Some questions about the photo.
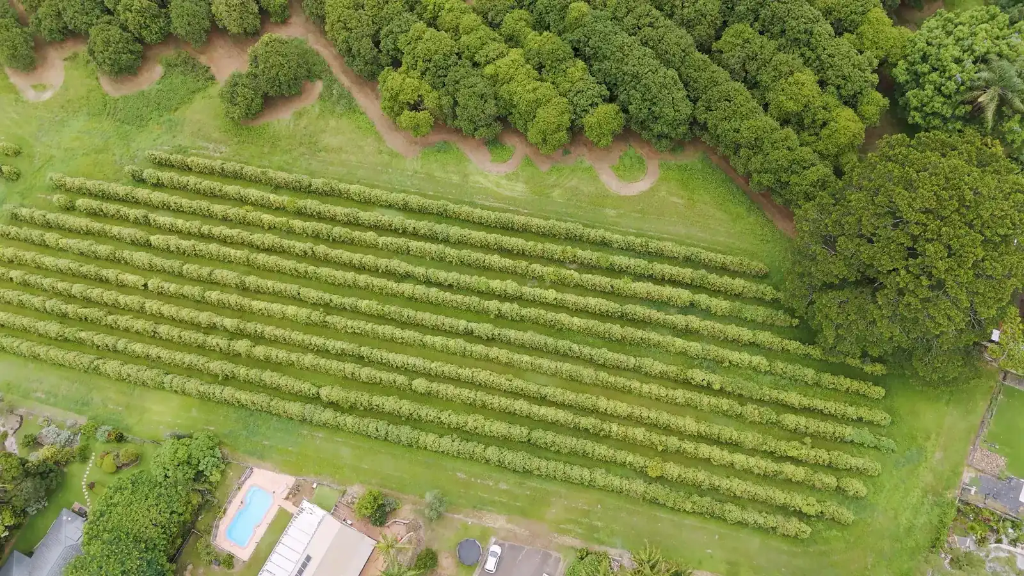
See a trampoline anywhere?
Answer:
Yes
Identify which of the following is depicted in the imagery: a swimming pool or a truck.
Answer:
swimming pool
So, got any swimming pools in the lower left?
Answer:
Yes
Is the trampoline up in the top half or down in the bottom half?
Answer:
bottom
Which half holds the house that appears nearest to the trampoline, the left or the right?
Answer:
left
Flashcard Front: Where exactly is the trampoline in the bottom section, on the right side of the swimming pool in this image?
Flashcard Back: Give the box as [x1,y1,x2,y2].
[457,539,482,565]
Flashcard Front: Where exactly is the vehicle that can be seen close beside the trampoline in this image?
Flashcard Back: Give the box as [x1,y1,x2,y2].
[484,543,502,575]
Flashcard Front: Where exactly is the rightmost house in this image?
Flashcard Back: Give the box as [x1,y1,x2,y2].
[256,500,378,576]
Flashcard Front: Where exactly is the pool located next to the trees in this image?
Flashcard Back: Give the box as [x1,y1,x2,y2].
[216,468,298,561]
